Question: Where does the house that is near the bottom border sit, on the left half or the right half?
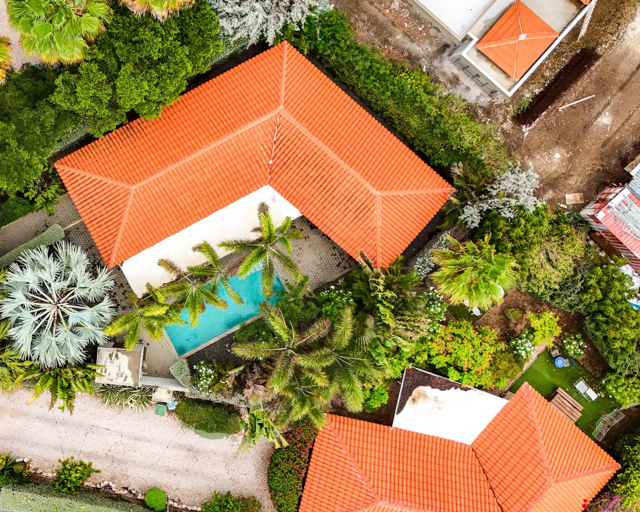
right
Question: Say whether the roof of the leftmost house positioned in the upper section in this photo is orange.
Yes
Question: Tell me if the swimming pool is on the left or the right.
left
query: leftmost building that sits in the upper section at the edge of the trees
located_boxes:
[53,39,454,296]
